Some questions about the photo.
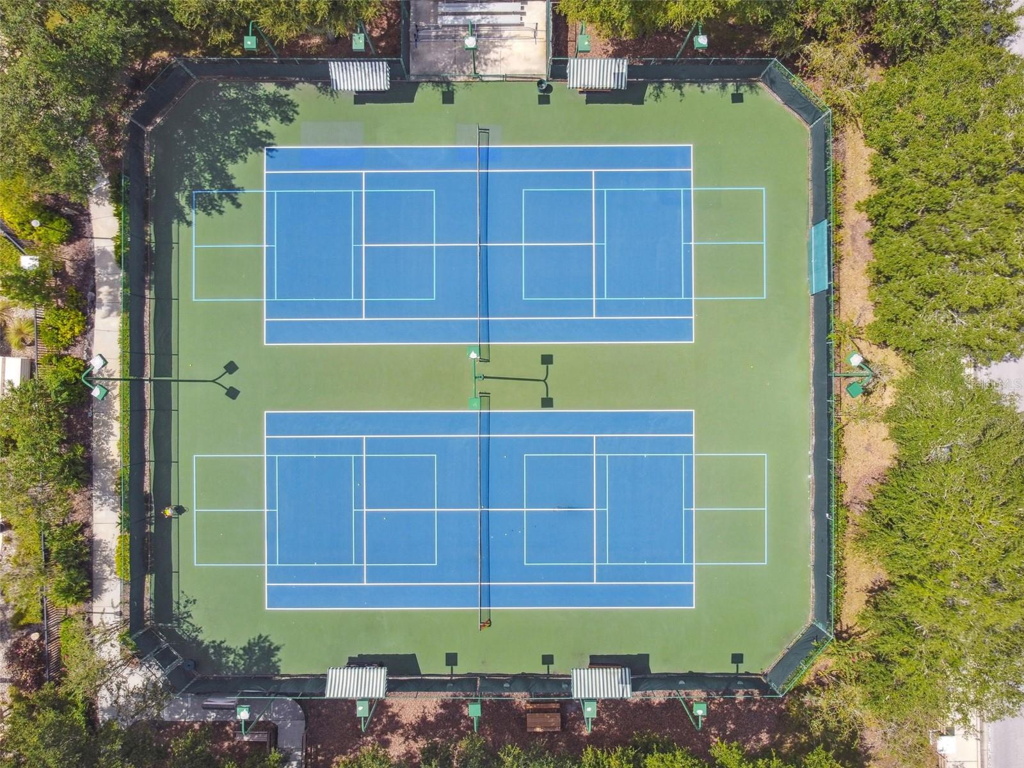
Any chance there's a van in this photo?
No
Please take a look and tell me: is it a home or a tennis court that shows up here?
tennis court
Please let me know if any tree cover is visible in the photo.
Yes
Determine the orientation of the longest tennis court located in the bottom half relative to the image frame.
horizontally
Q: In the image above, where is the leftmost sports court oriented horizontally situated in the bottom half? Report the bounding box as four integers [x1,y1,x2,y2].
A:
[194,455,436,566]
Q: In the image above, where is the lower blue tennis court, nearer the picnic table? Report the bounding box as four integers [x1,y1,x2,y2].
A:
[265,410,695,610]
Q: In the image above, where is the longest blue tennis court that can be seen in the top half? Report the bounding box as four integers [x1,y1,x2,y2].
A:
[264,145,693,345]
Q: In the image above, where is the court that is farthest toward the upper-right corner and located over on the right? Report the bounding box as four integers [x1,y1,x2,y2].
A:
[523,187,765,299]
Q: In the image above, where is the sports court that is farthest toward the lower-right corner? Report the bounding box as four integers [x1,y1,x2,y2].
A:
[524,453,767,565]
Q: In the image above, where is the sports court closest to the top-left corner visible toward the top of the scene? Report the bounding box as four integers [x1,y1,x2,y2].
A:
[193,189,435,301]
